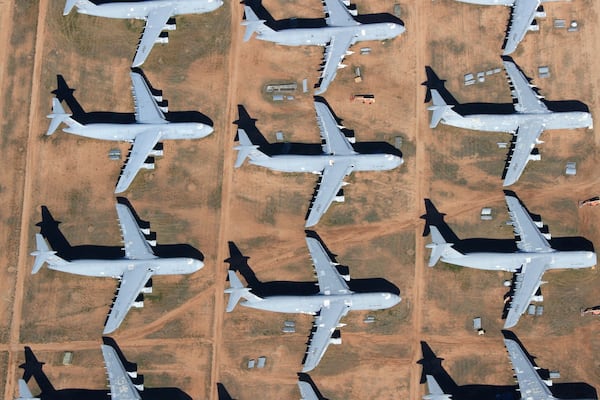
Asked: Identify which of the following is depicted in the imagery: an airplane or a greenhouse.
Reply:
airplane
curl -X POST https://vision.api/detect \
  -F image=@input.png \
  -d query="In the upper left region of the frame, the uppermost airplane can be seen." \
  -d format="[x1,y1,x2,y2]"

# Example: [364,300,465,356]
[63,0,223,67]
